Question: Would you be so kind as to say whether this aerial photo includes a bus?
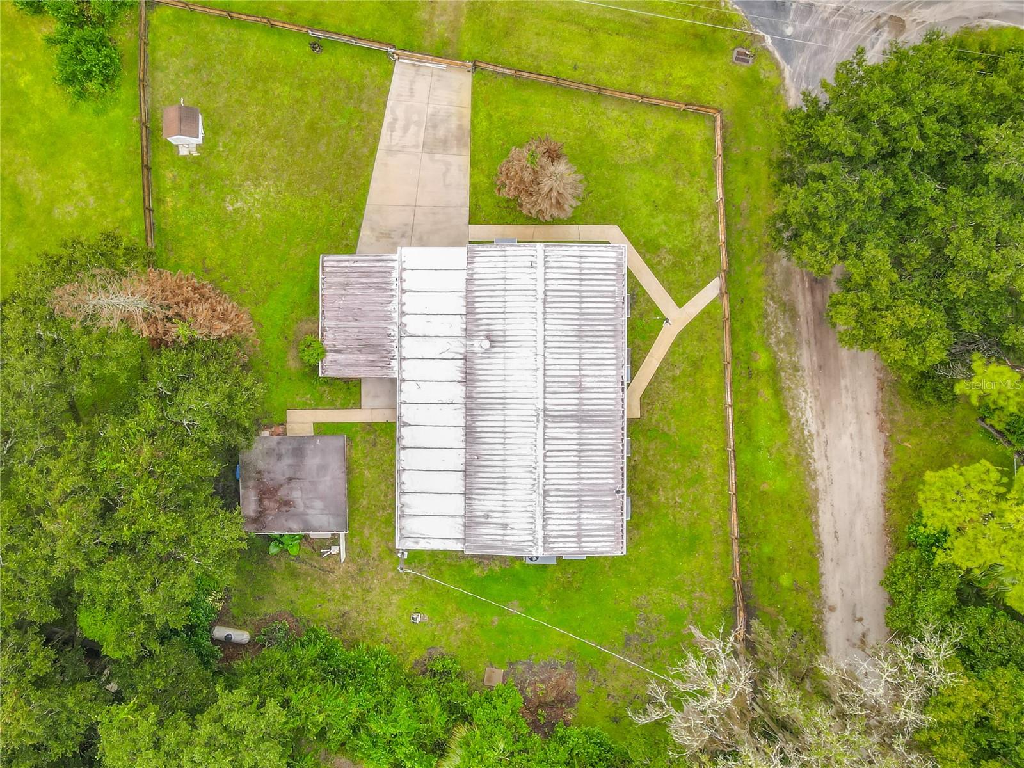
No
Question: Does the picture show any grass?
Yes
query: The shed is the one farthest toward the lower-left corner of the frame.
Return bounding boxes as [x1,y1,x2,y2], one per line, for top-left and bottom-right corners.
[239,435,349,533]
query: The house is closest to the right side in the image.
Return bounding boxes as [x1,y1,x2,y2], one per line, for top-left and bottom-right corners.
[464,239,630,560]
